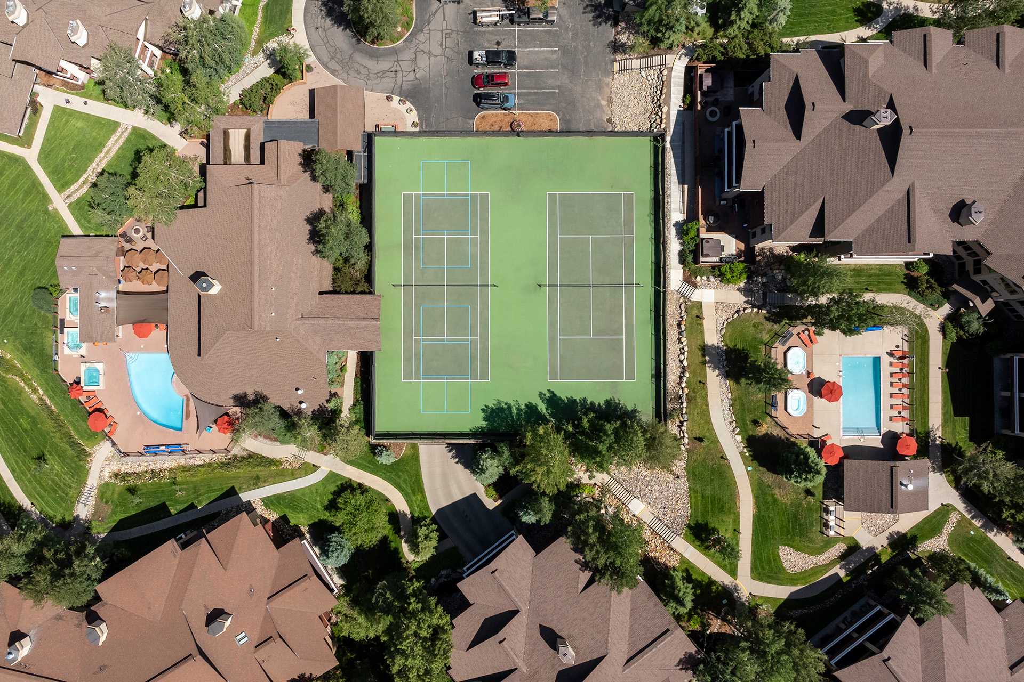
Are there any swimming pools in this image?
Yes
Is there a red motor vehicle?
Yes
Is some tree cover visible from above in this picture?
Yes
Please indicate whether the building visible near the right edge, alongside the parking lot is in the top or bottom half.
top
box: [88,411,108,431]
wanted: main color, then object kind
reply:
red umbrella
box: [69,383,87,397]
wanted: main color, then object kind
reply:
red umbrella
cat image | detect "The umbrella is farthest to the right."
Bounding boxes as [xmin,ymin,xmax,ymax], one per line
[895,434,917,455]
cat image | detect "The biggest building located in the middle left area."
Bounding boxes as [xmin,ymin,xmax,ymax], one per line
[155,139,383,410]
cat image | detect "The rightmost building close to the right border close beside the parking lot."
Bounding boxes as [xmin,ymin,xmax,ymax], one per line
[723,25,1024,316]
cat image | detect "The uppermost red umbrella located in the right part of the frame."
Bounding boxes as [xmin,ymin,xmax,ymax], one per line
[821,381,841,402]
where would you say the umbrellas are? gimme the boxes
[121,267,140,283]
[69,383,87,397]
[139,269,155,285]
[88,411,108,431]
[125,250,141,267]
[821,443,843,465]
[155,251,169,267]
[895,434,917,455]
[821,381,841,402]
[140,249,156,265]
[154,269,169,286]
[133,324,154,339]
